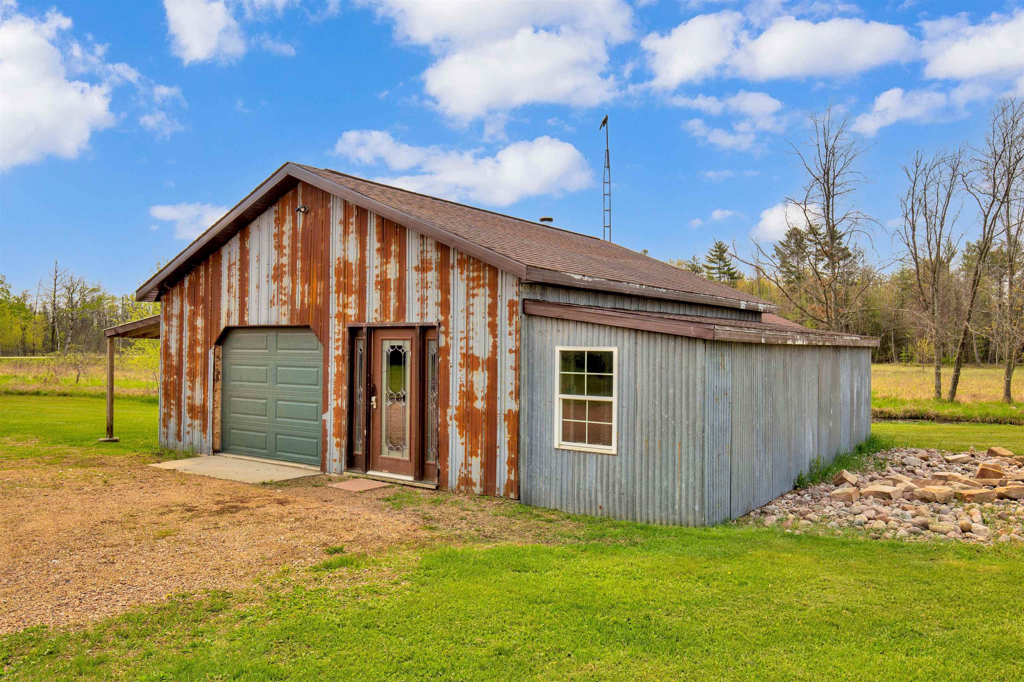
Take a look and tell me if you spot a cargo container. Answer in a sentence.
No, this view has no cargo container in it.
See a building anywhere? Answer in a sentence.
Yes, there's a building down there.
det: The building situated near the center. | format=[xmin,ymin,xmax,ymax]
[100,160,881,526]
